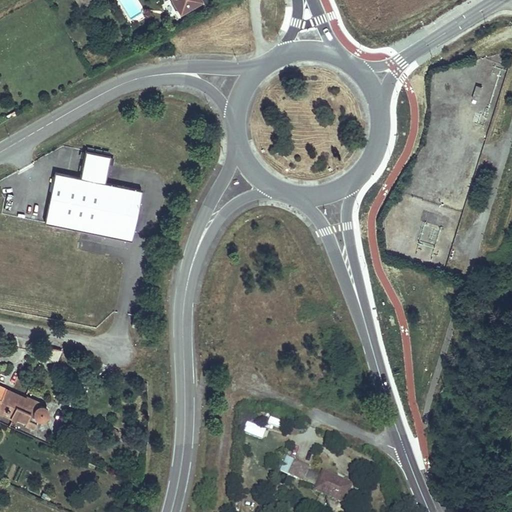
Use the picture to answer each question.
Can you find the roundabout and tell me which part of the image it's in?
top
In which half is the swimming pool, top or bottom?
top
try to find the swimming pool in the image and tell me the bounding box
[117,0,146,21]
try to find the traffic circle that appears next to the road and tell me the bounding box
[224,40,390,207]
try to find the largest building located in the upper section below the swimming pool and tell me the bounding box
[45,153,142,242]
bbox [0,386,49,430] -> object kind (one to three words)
house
